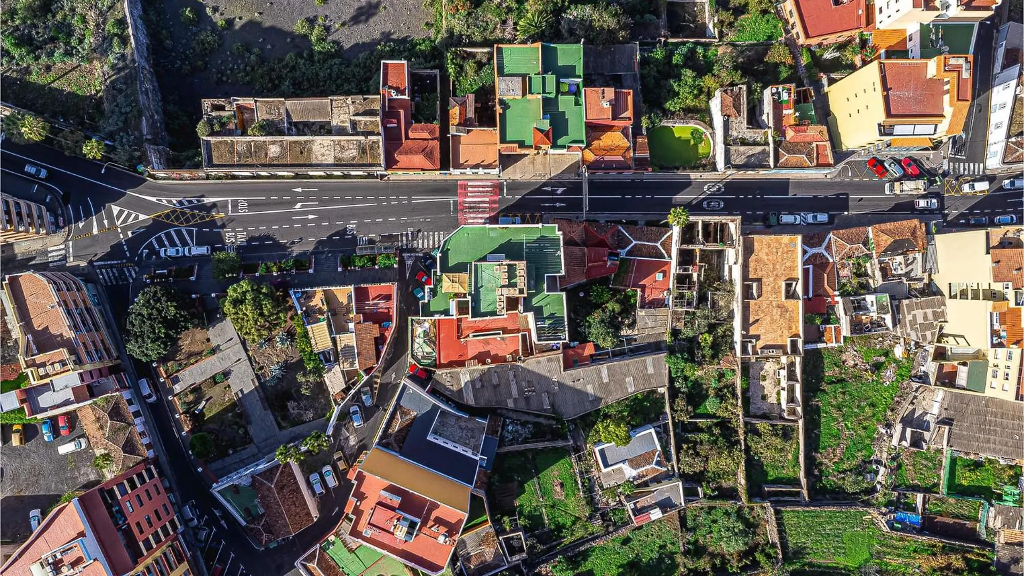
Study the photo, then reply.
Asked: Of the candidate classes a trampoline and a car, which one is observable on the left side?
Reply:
car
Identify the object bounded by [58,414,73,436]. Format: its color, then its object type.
red car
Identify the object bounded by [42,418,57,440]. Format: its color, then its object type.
blue car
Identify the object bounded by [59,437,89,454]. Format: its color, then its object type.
white car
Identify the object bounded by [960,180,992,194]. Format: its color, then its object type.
white vehicle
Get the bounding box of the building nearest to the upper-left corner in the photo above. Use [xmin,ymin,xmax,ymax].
[0,192,51,246]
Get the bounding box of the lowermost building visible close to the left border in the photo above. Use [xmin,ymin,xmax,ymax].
[0,460,203,576]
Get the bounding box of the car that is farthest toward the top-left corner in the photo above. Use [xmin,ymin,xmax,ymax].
[24,163,50,178]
